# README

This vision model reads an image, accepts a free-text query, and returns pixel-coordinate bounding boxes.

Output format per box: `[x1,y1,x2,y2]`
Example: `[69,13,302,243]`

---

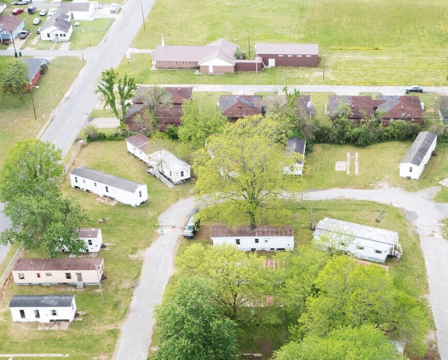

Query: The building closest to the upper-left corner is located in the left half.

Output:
[0,10,29,43]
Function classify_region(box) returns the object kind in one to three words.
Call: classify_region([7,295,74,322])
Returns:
house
